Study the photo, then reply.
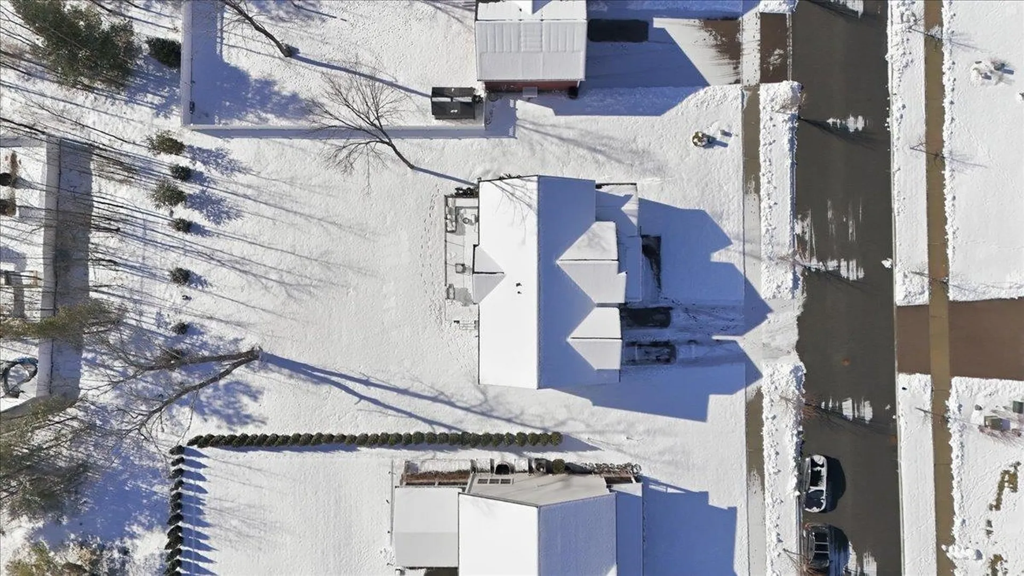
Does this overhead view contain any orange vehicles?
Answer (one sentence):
No, I can't see a single orange vehicle in this photo.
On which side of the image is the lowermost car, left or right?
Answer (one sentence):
The lowermost car is on the right side of the image.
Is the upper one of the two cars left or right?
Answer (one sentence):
The upper one of the two cars sits on the right side.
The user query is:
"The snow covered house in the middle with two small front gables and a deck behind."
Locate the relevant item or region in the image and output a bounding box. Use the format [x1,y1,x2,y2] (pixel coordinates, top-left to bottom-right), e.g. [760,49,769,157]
[471,174,641,389]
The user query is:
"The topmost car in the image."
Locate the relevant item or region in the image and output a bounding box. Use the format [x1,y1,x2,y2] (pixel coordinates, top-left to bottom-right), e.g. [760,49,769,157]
[801,454,829,506]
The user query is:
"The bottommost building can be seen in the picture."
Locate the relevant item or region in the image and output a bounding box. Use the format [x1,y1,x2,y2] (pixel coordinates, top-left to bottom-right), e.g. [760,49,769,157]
[391,472,644,576]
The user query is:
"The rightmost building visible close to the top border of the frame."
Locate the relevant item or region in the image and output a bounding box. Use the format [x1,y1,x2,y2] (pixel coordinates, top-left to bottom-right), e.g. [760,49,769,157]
[475,0,588,104]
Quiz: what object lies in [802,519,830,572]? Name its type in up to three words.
car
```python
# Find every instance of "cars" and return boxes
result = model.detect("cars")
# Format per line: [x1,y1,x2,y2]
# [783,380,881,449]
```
[802,519,830,572]
[801,454,829,506]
